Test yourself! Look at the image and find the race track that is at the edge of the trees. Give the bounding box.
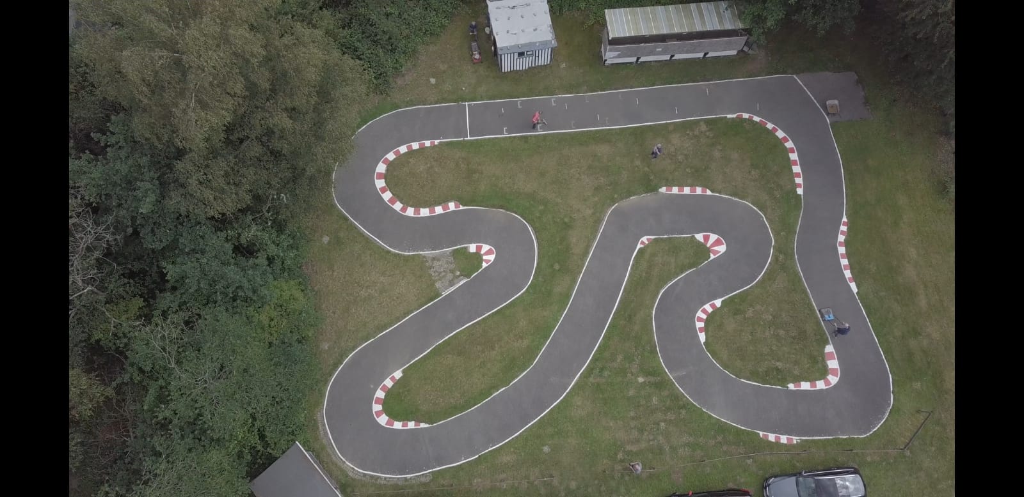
[323,73,894,479]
